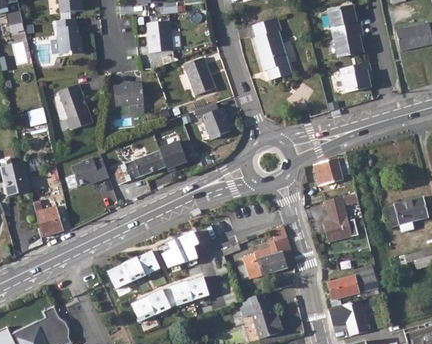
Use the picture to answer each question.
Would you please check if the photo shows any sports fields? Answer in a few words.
No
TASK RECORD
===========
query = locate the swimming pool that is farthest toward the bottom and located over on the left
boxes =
[114,116,134,128]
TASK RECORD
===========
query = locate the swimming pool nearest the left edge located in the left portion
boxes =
[38,42,52,64]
